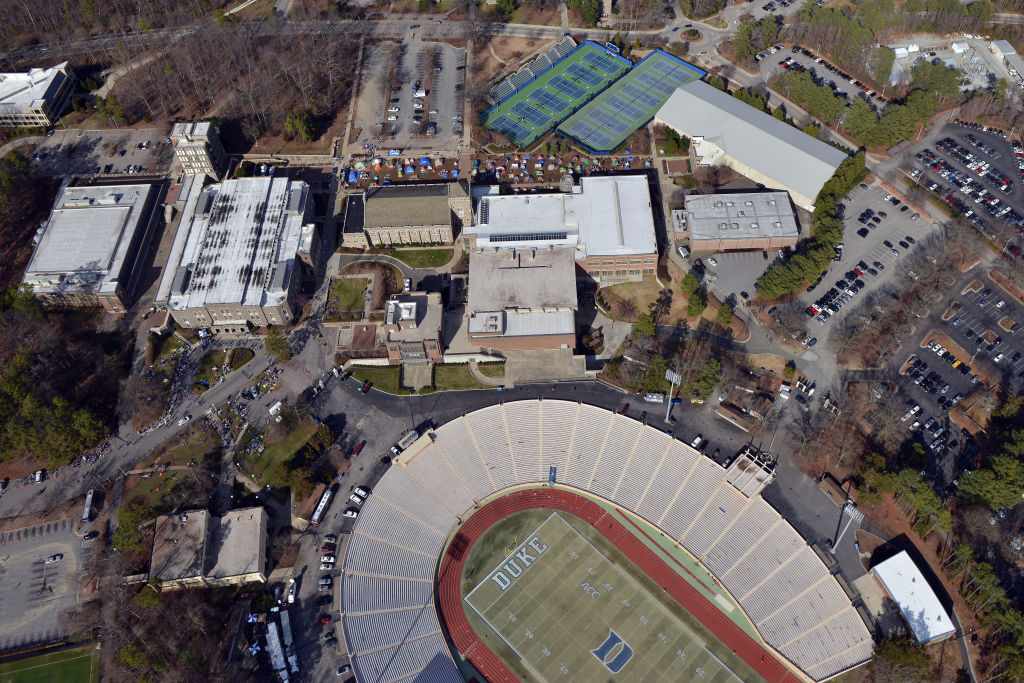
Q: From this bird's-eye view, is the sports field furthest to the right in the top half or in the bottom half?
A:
bottom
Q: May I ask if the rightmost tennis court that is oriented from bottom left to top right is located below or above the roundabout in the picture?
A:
below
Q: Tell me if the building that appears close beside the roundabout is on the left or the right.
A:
right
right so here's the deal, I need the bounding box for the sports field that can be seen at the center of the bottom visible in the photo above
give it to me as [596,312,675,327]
[462,509,748,683]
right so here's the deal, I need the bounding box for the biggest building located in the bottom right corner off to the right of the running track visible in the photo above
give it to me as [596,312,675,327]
[867,551,954,649]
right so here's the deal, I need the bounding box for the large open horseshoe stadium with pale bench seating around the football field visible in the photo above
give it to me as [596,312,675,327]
[340,398,871,683]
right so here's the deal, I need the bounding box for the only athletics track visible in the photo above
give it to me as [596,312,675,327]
[438,490,804,683]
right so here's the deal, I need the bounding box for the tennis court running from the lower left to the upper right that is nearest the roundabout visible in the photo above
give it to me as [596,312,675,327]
[558,50,707,150]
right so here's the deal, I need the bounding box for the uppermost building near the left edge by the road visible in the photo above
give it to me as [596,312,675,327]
[0,62,79,132]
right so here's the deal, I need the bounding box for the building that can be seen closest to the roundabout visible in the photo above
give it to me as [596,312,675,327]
[655,80,849,215]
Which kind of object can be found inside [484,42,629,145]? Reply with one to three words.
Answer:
tennis court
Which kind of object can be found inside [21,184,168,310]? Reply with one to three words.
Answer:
building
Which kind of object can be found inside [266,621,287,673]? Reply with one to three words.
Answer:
trailer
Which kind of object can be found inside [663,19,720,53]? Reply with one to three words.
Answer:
roundabout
